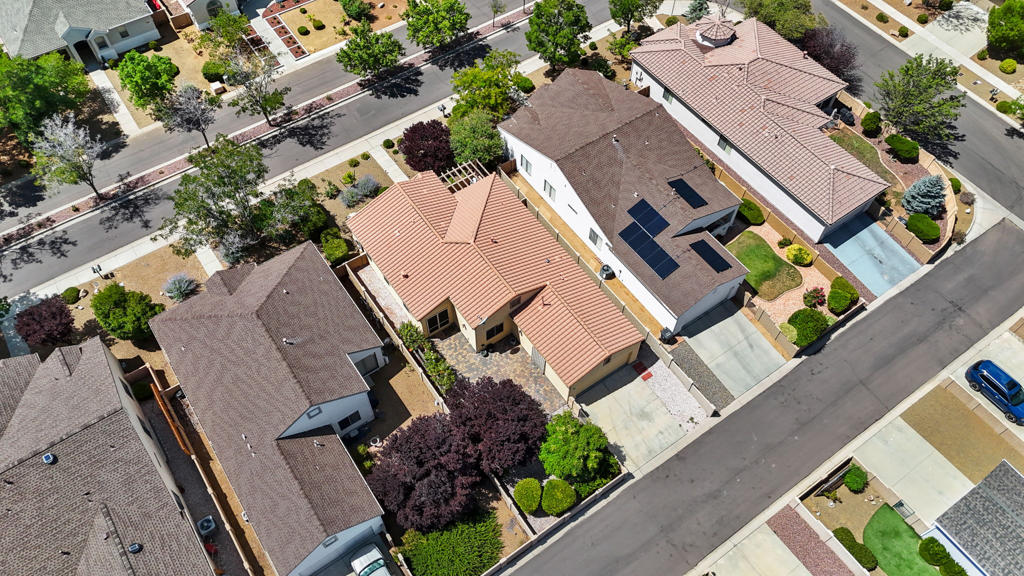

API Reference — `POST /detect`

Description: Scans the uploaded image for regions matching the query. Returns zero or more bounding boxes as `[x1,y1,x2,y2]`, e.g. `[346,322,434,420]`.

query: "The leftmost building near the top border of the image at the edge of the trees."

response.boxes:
[0,0,161,70]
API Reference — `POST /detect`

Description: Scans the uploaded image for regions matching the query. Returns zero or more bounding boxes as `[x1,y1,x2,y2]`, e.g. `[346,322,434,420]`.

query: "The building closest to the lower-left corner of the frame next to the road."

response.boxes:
[0,337,218,576]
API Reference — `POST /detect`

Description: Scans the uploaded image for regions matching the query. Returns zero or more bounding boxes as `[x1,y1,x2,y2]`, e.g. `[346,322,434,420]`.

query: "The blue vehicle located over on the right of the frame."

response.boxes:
[967,360,1024,426]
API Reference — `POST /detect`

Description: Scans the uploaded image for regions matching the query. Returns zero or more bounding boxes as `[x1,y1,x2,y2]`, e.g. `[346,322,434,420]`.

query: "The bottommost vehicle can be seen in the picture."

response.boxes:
[352,540,403,576]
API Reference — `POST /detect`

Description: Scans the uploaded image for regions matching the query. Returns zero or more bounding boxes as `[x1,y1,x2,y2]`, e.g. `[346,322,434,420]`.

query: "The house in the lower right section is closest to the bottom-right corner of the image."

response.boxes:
[920,460,1024,576]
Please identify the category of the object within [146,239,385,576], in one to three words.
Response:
house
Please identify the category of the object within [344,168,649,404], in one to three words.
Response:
house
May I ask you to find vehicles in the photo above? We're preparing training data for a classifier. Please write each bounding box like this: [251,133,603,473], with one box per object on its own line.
[352,540,403,576]
[967,360,1024,426]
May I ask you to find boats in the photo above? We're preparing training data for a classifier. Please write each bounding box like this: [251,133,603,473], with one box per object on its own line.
[150,380,187,454]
